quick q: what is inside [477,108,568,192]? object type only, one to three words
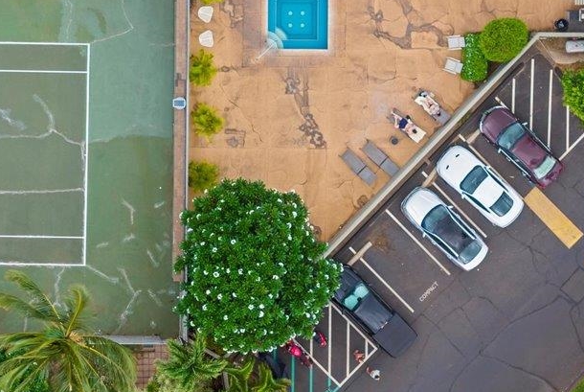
car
